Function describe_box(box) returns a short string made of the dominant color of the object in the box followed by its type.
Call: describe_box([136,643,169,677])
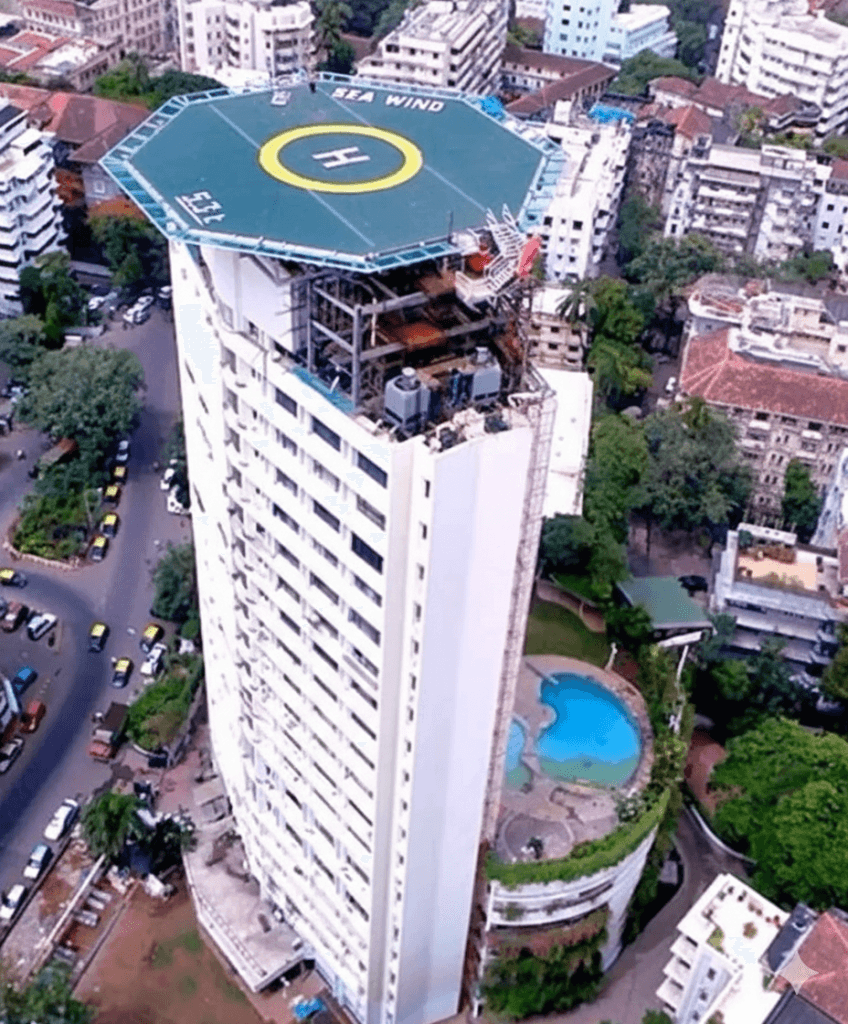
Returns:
white car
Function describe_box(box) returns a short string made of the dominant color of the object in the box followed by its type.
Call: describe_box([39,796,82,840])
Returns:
white car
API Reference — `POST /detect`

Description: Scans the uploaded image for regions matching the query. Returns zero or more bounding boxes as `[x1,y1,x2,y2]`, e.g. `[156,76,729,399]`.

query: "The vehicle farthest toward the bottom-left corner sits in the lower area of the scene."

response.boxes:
[0,879,29,921]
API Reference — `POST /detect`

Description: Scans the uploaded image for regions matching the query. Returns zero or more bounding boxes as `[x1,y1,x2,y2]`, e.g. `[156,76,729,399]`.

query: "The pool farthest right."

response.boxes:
[534,670,646,791]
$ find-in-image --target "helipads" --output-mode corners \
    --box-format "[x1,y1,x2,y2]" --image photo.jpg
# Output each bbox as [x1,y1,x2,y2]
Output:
[100,69,564,404]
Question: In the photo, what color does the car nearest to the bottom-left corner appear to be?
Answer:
white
